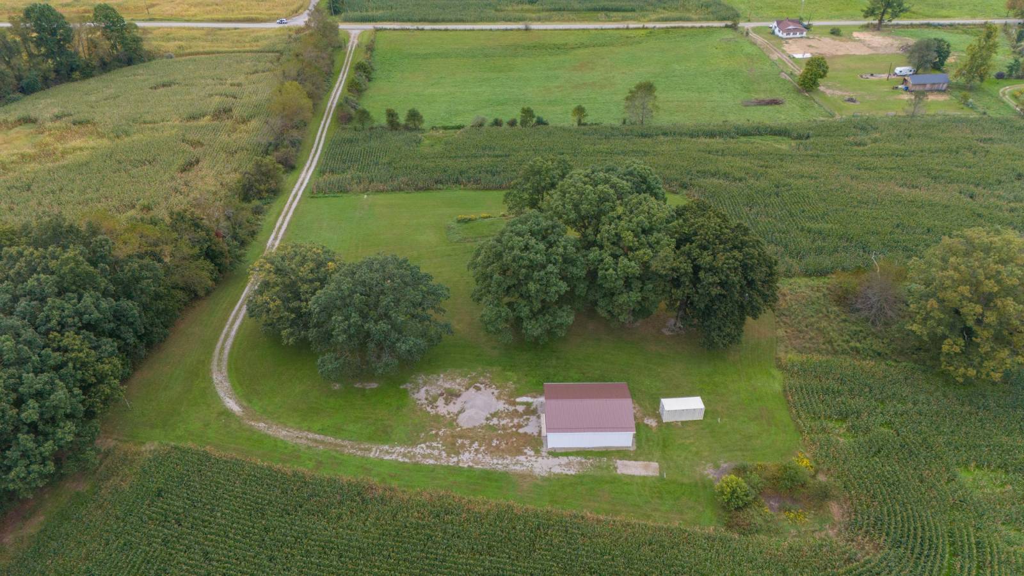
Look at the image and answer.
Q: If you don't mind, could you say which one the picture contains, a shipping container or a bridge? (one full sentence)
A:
There is a shipping container in the scene.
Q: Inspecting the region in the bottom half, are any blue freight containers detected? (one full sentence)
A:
No, I can find no blue freight container in the bottom half.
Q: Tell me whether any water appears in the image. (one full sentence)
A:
No, water can't be seen anywhere here.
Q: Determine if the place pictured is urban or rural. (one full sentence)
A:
This place is rural.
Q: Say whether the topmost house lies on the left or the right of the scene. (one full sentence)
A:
You can find the topmost house on the right side of the picture.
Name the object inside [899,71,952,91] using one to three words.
barn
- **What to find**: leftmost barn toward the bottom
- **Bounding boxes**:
[541,382,637,449]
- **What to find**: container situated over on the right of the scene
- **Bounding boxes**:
[659,395,706,423]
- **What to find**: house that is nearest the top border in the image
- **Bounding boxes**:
[774,14,813,38]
